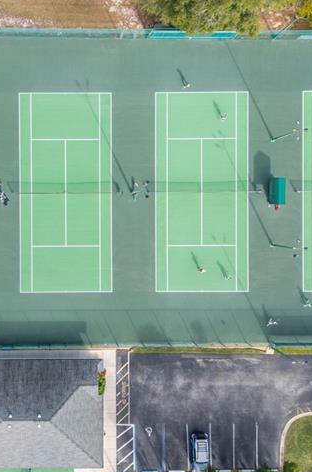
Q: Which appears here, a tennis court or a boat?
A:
tennis court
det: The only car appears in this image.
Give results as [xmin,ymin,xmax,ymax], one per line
[191,433,212,472]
